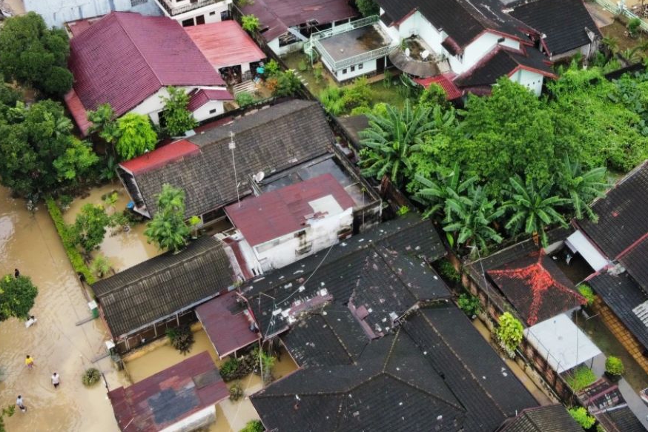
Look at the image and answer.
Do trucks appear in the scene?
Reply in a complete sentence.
No, the scene contains no truck.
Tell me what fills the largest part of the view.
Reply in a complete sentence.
The bulk of the photo consists of buildings.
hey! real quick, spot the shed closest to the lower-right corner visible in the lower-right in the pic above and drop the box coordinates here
[594,403,644,432]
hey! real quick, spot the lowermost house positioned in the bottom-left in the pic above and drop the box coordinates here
[109,353,229,432]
